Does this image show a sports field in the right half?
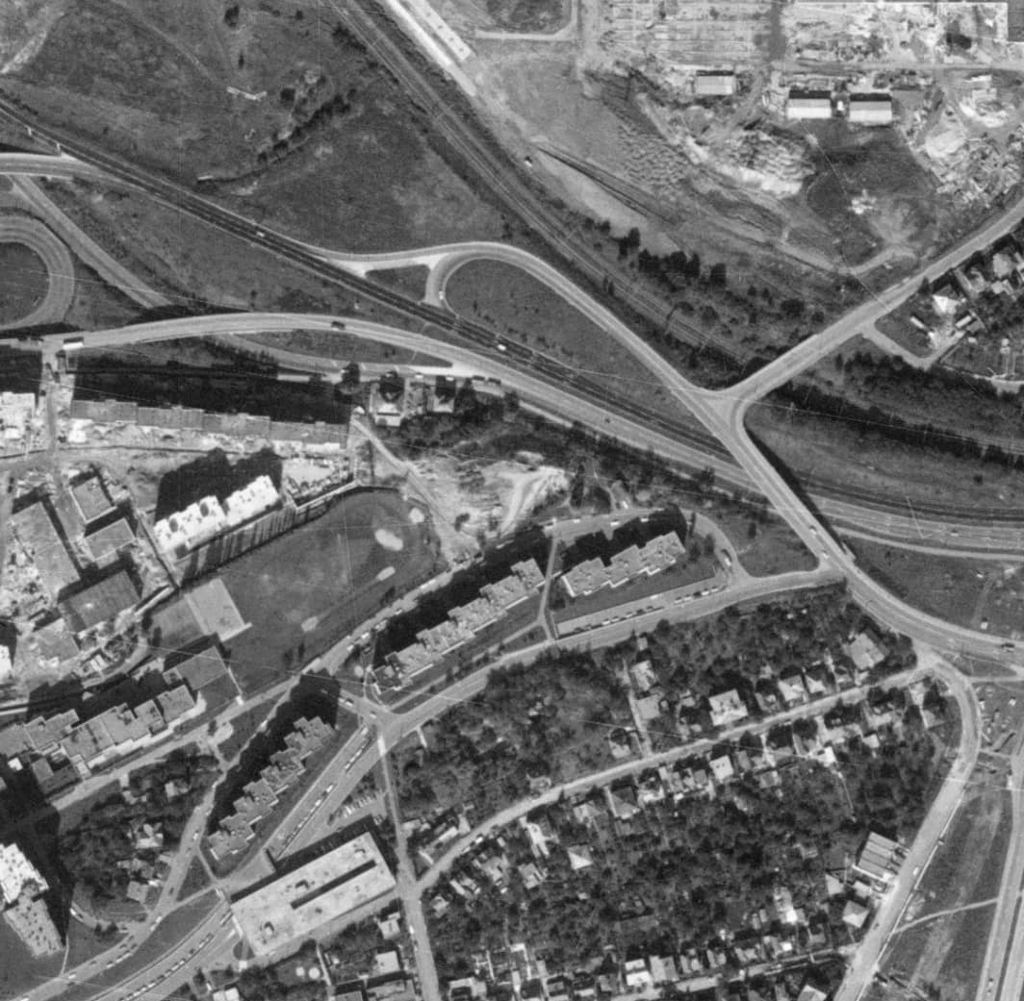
No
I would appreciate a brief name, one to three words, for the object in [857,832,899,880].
building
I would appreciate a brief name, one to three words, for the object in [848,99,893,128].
hangar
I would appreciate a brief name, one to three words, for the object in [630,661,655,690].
house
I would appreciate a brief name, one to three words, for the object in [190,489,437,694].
sports field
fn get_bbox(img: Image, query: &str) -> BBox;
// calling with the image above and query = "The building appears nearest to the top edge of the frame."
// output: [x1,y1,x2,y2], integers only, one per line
[420,0,469,59]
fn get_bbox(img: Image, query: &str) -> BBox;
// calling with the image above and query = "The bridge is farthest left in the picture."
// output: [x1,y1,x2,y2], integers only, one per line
[0,311,286,351]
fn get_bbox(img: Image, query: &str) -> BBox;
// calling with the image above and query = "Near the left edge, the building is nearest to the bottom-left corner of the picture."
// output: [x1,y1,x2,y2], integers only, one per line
[4,881,81,958]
